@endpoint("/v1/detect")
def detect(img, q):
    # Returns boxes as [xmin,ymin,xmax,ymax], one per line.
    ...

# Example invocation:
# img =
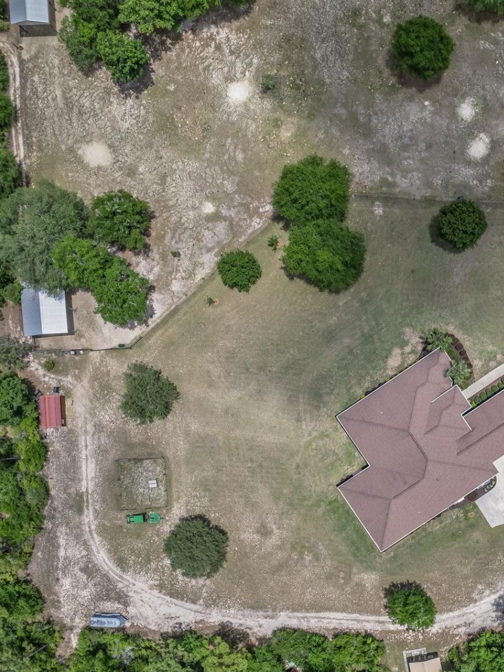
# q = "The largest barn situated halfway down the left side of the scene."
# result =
[20,278,75,337]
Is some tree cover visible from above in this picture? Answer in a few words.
Yes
